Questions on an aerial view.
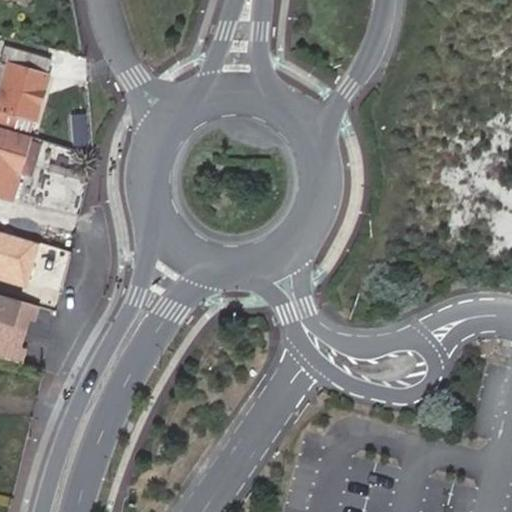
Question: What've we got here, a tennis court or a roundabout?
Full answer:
The image shows a roundabout.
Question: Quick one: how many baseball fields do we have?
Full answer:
No baseball fields are visible.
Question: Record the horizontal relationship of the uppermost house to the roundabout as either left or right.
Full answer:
The roundabout has the uppermost house on its left side.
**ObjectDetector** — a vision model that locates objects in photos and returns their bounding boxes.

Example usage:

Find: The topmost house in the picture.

[0,43,51,134]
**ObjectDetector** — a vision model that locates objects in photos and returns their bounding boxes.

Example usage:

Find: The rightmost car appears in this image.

[370,474,394,488]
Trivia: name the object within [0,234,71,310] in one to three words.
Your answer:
house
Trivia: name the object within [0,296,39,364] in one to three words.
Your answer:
house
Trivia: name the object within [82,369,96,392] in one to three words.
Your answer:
car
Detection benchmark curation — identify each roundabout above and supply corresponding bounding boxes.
[126,68,344,296]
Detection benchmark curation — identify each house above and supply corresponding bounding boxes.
[0,296,39,364]
[0,234,71,310]
[0,128,42,202]
[0,43,51,134]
